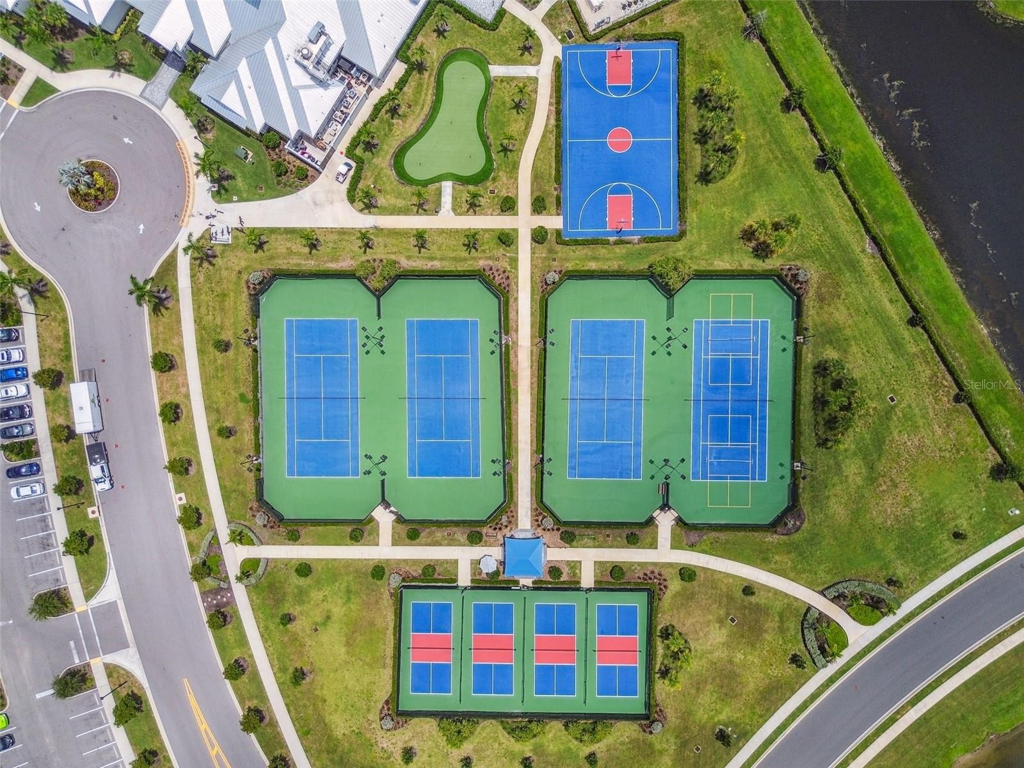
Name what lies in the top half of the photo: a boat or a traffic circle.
traffic circle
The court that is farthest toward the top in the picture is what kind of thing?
basketball court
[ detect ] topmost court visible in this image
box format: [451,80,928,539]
[562,42,679,238]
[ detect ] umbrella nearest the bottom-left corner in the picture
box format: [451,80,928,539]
[480,554,497,571]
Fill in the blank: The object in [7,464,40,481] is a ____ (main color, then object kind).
blue car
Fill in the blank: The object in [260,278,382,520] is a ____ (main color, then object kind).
green tennis court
